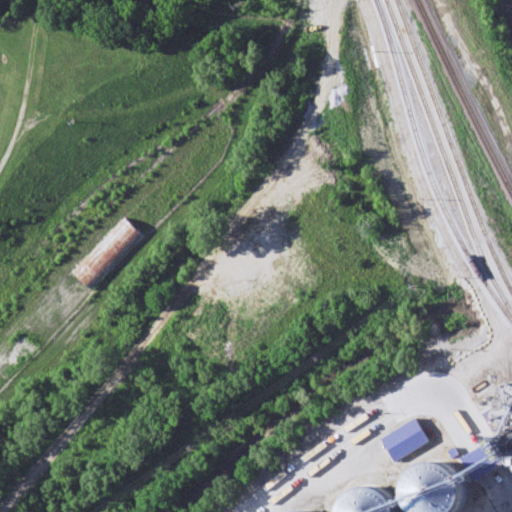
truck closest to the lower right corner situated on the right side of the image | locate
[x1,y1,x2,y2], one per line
[454,410,478,444]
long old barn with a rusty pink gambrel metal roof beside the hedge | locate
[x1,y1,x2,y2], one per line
[72,216,144,291]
